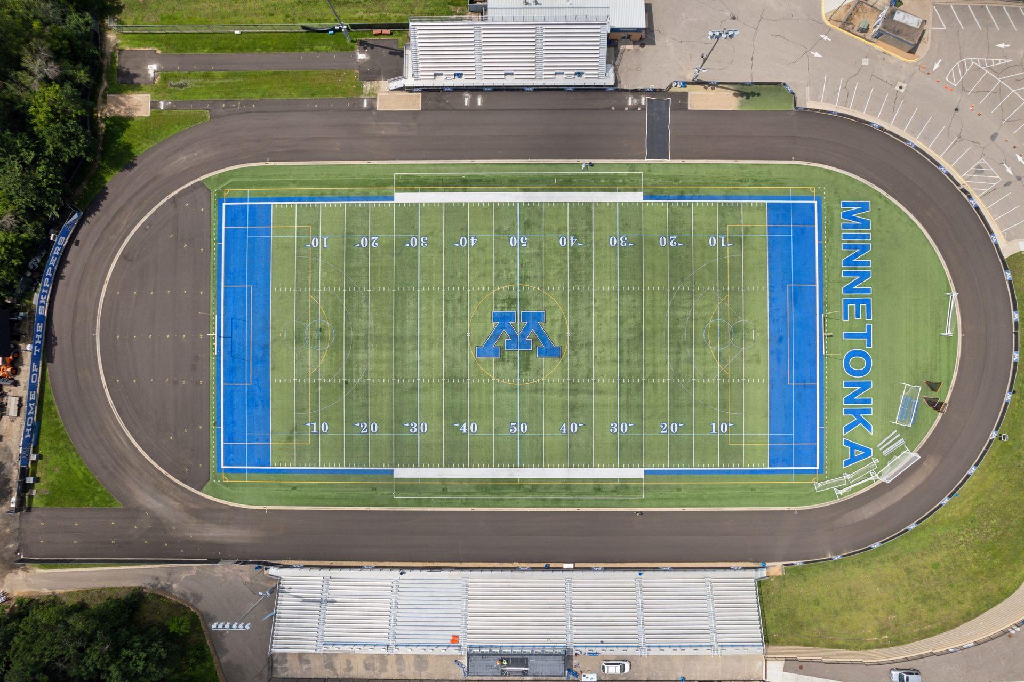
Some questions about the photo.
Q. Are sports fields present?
Yes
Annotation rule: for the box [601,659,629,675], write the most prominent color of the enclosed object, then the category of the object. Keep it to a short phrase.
white car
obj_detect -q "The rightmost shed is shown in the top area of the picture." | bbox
[872,6,927,48]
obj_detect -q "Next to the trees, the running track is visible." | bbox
[19,109,1015,564]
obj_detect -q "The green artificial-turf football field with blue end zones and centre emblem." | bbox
[203,164,958,505]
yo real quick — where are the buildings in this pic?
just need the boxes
[488,0,646,38]
[872,6,927,48]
